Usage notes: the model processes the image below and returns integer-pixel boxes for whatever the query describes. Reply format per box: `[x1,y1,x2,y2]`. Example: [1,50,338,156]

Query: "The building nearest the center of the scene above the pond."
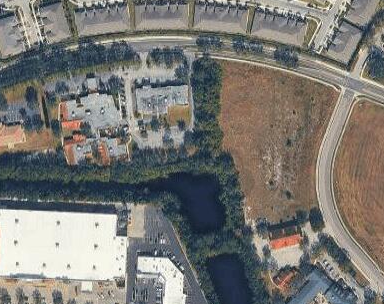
[136,85,189,113]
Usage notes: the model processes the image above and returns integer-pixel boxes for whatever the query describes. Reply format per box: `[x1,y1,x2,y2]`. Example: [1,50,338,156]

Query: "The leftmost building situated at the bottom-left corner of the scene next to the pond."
[0,209,128,292]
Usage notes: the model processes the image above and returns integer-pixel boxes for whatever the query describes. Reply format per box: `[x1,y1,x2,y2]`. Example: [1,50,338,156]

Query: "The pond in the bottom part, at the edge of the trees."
[120,172,225,232]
